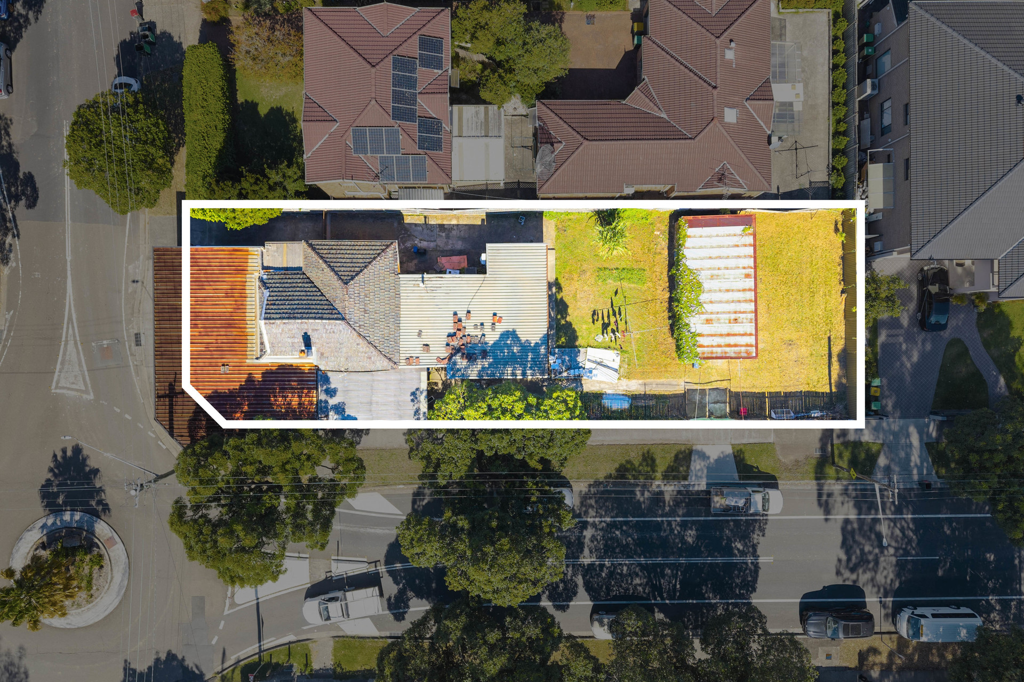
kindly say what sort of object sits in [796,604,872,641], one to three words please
car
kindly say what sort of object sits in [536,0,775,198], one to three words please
house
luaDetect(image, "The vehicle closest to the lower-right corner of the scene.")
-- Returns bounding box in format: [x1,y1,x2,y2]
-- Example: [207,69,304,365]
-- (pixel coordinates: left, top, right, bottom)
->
[889,603,985,641]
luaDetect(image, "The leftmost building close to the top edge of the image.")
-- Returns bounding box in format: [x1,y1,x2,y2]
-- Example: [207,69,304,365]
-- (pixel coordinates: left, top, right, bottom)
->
[301,1,453,198]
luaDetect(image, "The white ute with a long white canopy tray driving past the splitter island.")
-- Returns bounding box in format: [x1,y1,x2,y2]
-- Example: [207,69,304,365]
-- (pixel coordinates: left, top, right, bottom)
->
[302,582,386,624]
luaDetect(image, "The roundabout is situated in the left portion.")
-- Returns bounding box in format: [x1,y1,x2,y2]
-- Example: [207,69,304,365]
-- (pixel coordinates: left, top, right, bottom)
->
[10,510,129,629]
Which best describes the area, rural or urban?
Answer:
urban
